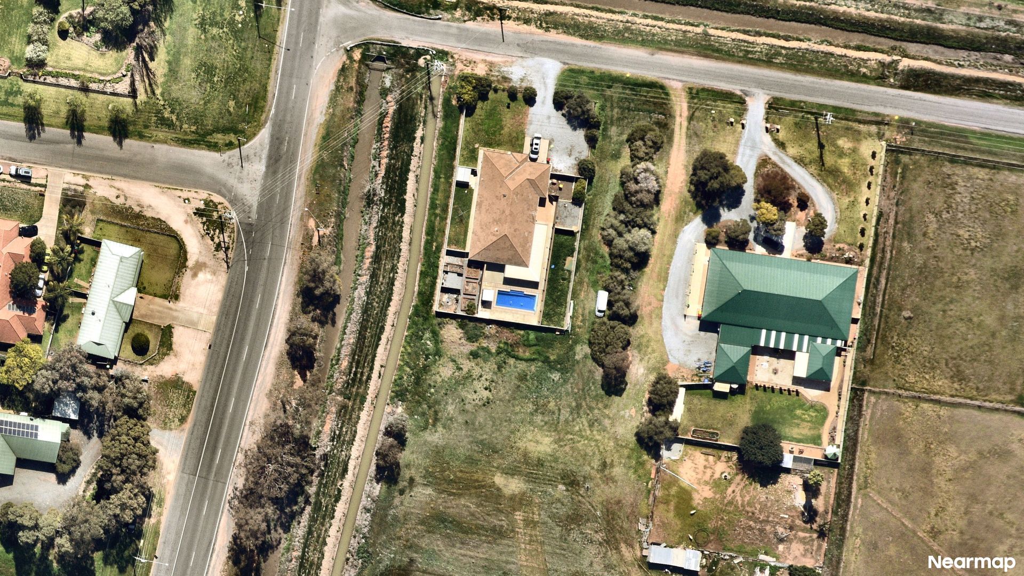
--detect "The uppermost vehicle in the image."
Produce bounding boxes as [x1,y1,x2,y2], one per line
[527,133,541,159]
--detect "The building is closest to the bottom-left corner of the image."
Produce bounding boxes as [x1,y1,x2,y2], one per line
[0,414,69,475]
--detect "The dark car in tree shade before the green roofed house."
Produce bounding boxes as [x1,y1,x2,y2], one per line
[761,235,784,253]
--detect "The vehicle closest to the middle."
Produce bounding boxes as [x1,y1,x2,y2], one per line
[594,291,608,317]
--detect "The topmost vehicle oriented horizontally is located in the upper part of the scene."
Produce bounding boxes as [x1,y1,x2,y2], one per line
[9,167,34,180]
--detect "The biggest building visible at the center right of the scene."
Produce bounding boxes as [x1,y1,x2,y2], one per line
[700,247,858,385]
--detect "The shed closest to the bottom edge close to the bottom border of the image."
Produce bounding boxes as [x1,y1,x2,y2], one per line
[646,545,702,571]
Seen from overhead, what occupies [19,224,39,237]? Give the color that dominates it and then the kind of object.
black vehicle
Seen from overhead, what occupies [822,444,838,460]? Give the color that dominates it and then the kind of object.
white gazebo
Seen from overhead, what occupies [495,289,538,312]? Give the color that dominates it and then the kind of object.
blue swimming pool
